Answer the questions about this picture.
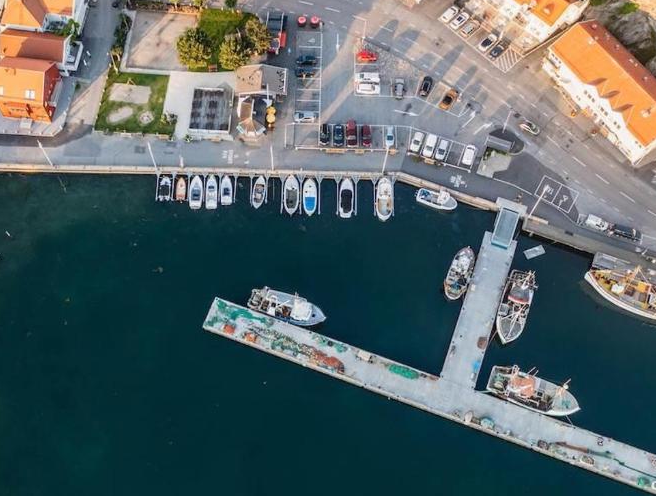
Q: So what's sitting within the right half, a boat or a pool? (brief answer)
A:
boat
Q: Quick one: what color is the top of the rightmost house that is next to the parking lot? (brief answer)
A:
orange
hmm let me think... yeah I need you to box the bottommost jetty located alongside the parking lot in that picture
[201,231,656,496]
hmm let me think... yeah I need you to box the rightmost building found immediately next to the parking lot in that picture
[542,22,656,164]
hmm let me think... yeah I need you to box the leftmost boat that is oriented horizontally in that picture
[246,289,327,324]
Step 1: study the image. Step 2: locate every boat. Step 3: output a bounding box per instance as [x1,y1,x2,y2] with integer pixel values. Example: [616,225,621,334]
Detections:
[443,245,475,304]
[221,175,232,205]
[582,269,656,315]
[487,368,582,415]
[252,175,265,209]
[338,178,354,218]
[189,174,203,210]
[413,188,458,208]
[302,177,317,216]
[283,176,299,216]
[158,172,170,203]
[376,180,394,222]
[205,174,217,209]
[246,289,327,324]
[176,175,186,202]
[496,265,538,346]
